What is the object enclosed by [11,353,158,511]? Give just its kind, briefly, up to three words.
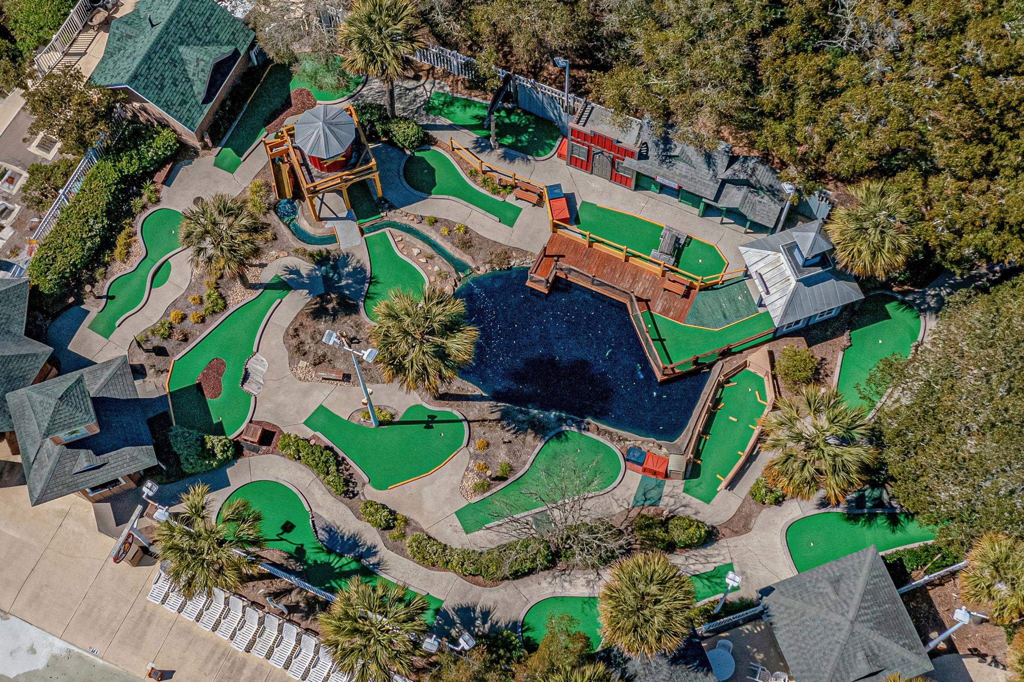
building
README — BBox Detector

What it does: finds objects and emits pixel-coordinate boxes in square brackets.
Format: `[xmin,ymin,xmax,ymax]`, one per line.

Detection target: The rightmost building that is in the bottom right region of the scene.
[758,544,935,682]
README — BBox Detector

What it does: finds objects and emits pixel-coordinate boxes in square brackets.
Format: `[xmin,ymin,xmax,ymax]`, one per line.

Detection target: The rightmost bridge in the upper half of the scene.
[325,219,362,249]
